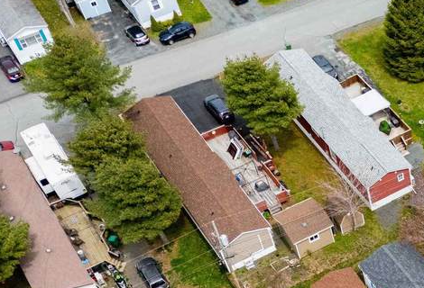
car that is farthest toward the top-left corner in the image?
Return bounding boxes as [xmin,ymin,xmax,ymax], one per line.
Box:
[0,55,26,83]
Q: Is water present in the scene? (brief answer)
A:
No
